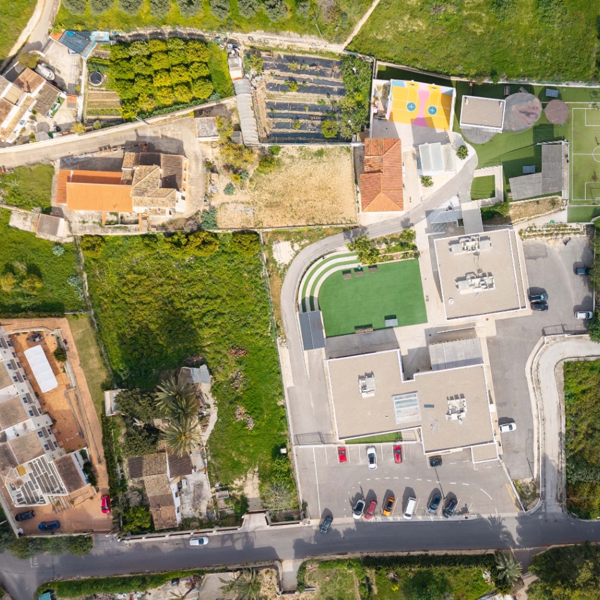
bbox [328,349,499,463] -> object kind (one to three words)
building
